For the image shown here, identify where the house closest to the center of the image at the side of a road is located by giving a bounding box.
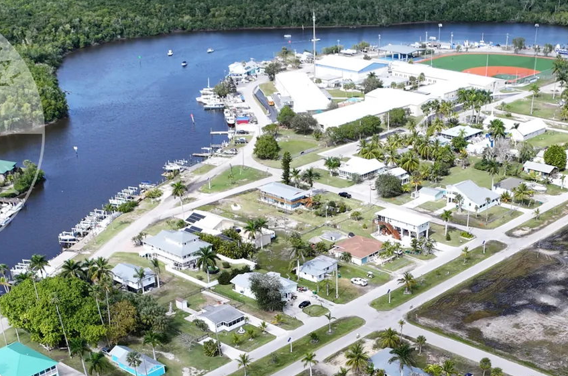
[259,183,313,215]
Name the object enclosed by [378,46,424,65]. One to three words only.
building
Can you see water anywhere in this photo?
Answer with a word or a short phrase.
Yes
